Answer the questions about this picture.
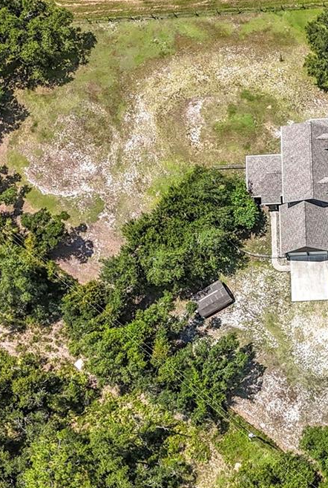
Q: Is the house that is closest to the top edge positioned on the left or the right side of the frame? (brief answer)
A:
right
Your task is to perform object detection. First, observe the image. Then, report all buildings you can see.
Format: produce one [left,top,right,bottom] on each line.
[191,282,232,320]
[246,115,328,260]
